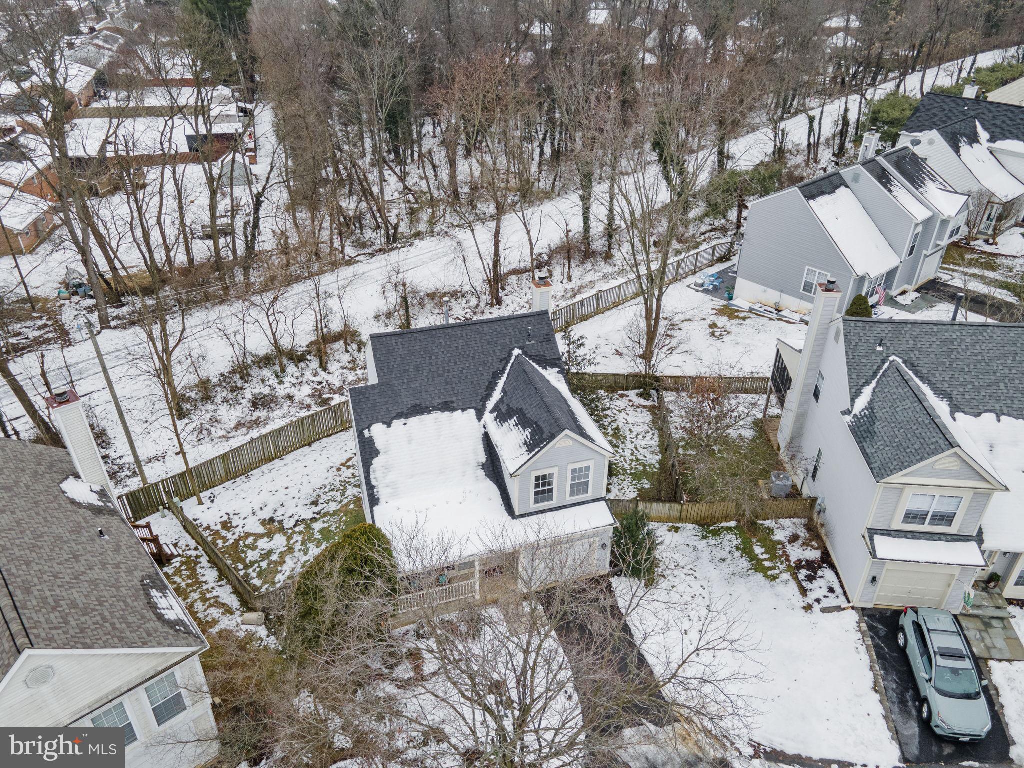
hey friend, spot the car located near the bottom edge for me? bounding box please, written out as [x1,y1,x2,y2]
[902,604,1001,754]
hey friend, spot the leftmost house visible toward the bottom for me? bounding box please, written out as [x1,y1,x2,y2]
[0,382,223,768]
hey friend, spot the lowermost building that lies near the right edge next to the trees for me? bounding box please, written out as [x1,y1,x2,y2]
[773,271,1024,614]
